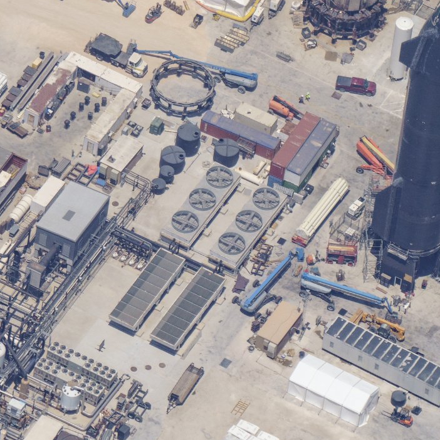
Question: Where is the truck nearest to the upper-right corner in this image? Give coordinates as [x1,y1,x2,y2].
[336,76,375,98]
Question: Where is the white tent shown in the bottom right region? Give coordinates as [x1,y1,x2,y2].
[284,358,378,428]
